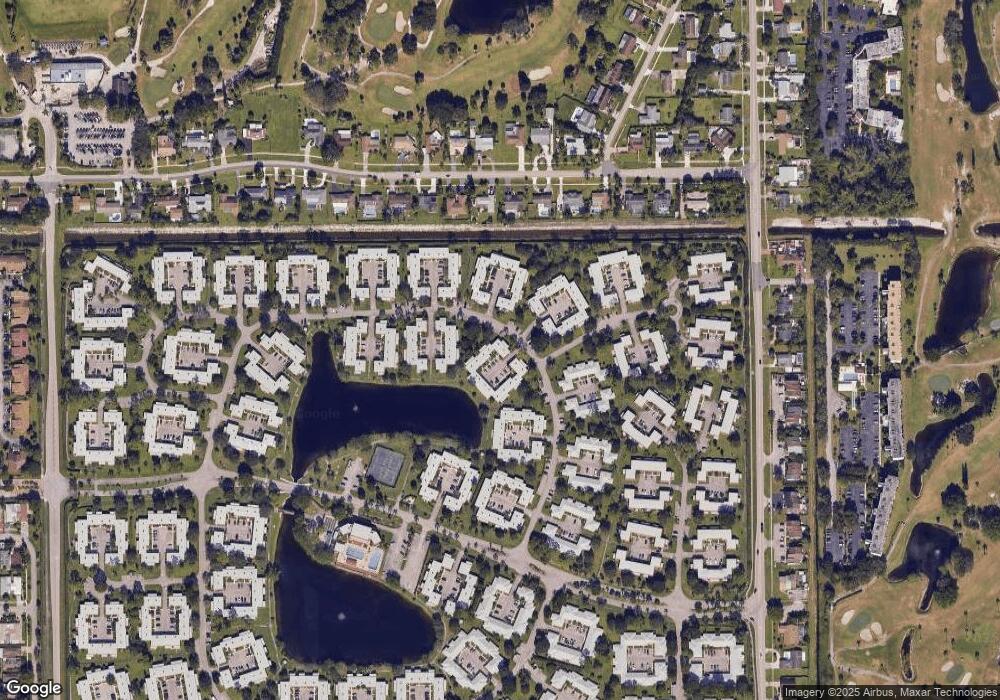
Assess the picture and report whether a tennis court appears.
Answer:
Yes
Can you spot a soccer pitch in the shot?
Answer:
No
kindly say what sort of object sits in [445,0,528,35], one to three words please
pond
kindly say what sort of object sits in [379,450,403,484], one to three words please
tennis court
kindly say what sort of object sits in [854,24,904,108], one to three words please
building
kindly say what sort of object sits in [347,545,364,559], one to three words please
swimming pool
